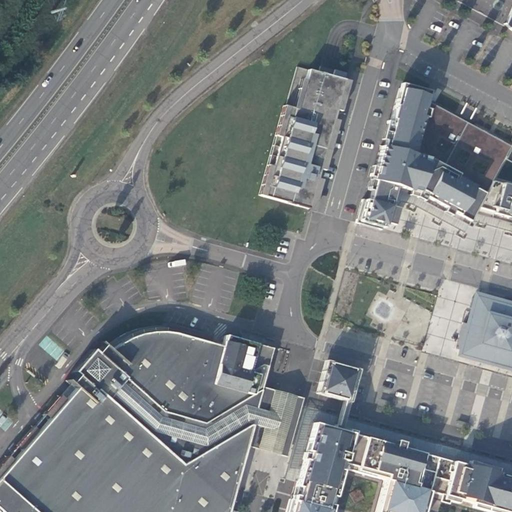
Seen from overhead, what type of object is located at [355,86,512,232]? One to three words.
building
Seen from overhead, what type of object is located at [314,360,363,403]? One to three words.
building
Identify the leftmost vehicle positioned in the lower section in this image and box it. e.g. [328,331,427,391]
[55,350,70,367]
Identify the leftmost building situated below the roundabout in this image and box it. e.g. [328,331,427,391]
[0,324,306,512]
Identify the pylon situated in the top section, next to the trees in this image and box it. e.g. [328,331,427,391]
[52,9,68,28]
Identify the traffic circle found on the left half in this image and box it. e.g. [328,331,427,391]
[70,181,159,270]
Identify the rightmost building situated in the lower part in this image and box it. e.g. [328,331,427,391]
[460,290,512,371]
